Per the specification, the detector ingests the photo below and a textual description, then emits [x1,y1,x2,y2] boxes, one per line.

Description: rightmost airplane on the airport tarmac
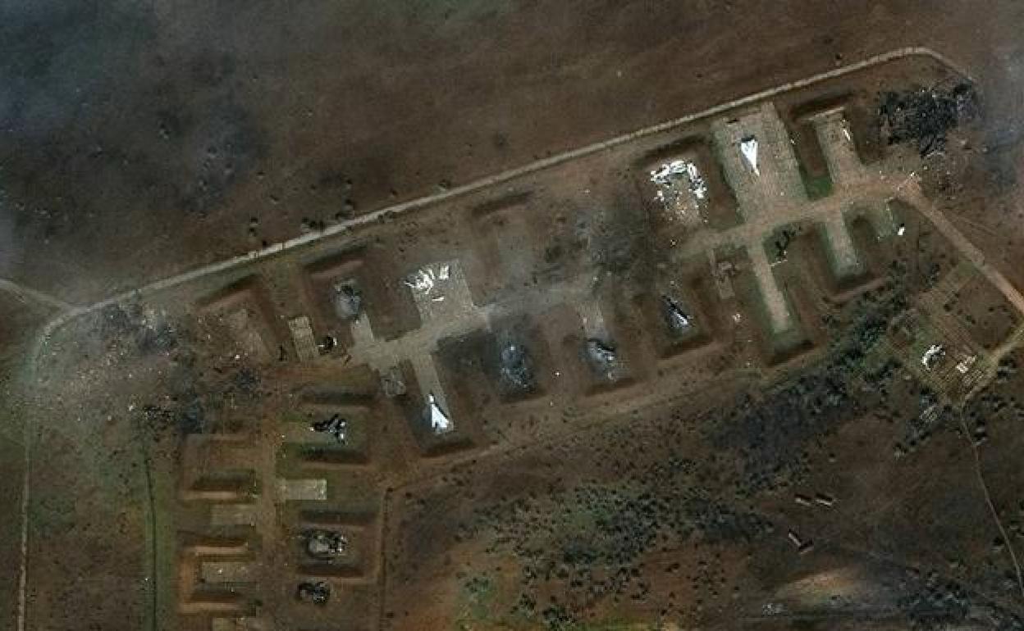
[740,136,759,175]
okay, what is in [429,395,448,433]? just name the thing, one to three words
airplane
